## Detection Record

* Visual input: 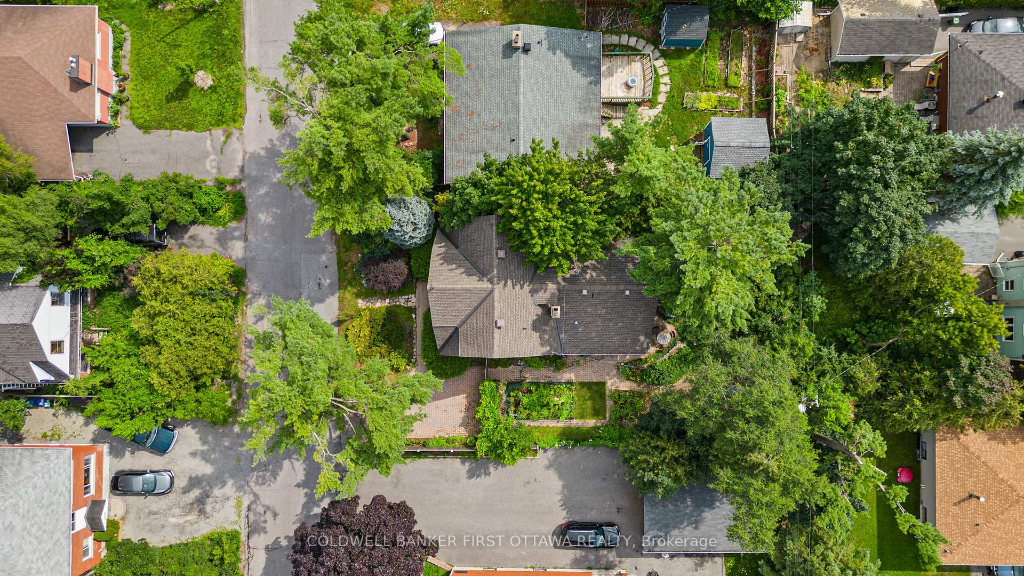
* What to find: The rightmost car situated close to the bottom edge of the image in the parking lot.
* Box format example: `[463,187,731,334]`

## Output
[562,519,620,552]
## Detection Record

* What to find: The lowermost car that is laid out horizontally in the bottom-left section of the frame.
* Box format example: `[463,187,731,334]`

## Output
[112,468,176,499]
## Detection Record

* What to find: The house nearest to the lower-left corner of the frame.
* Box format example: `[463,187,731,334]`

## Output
[0,441,121,576]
